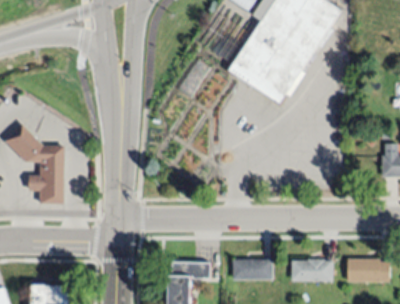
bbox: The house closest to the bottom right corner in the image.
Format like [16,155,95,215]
[347,259,392,284]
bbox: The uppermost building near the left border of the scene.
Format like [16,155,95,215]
[6,127,64,204]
